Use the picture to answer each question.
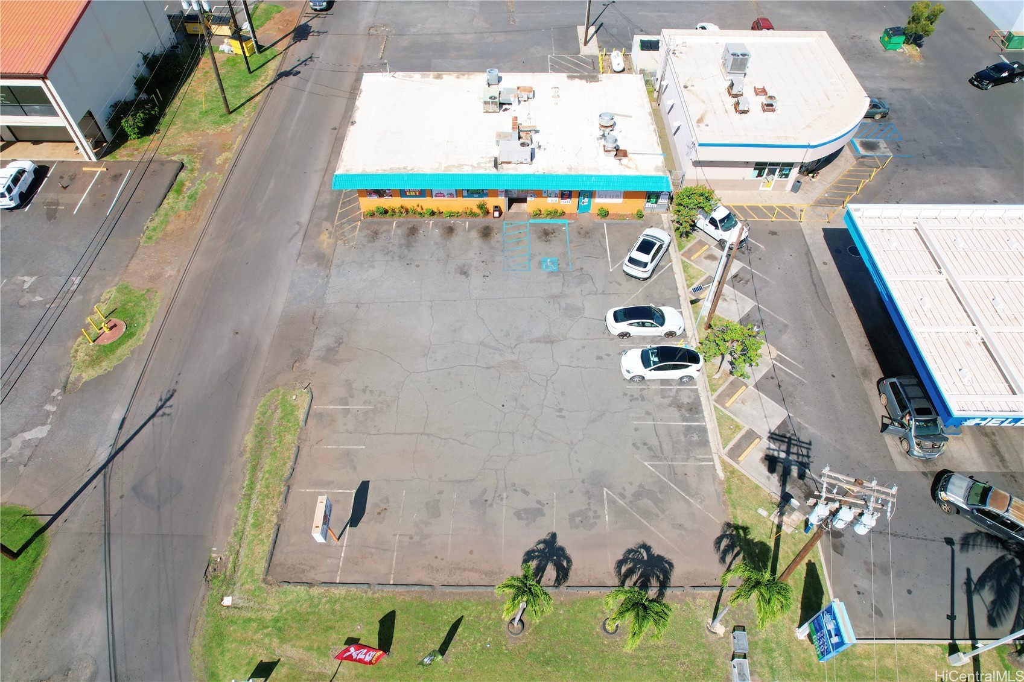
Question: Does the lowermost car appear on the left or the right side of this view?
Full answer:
It is on the right.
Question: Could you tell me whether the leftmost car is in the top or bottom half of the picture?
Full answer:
The leftmost car is in the top half of the image.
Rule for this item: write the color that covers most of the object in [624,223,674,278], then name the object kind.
white car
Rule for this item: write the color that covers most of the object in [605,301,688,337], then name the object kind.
white car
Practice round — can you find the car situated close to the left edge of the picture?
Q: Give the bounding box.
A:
[0,161,37,207]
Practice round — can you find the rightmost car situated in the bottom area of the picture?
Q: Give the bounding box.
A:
[930,473,1024,555]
